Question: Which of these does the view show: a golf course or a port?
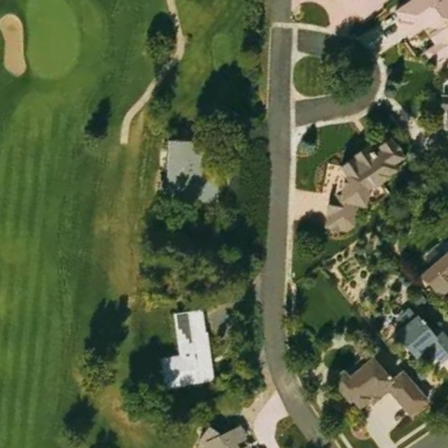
golf course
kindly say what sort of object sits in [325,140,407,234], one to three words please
house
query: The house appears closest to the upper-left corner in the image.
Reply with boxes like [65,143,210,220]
[168,141,218,206]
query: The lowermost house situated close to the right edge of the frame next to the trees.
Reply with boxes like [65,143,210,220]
[340,358,429,416]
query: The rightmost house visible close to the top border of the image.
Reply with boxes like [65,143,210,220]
[397,0,448,68]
